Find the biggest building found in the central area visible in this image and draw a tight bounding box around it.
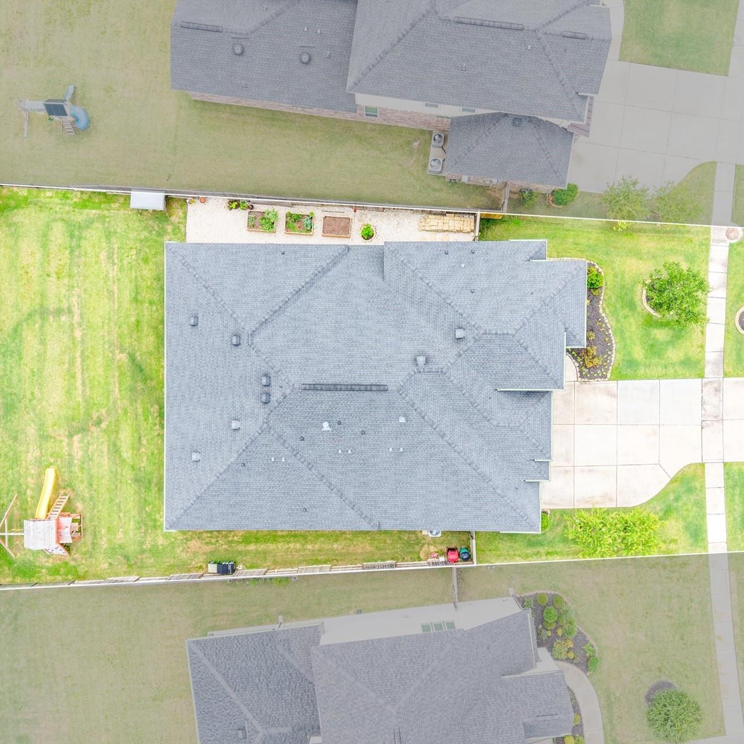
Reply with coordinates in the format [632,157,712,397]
[162,239,589,535]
